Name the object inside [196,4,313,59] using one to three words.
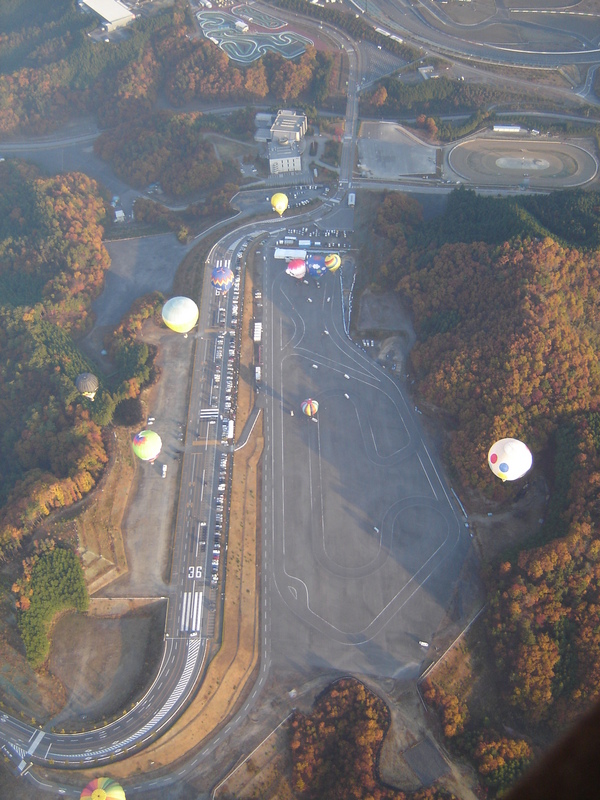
race track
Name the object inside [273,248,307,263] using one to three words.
shed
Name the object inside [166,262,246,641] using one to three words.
runway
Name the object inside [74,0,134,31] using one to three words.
building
